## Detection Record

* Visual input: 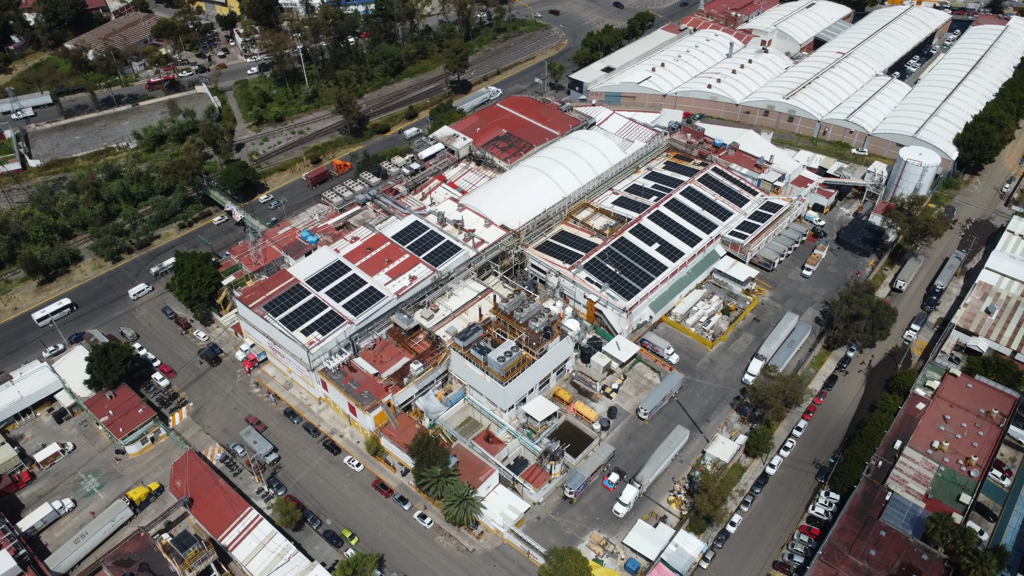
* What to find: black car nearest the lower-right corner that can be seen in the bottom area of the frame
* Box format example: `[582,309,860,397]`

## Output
[970,501,1003,524]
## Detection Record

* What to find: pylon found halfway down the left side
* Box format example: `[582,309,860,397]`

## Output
[237,212,267,267]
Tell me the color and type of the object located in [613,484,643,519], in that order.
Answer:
white truck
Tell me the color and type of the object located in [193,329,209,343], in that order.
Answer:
white car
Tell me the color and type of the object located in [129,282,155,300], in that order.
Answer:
white vehicle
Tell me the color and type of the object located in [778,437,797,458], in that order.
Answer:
white car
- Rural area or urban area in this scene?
urban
